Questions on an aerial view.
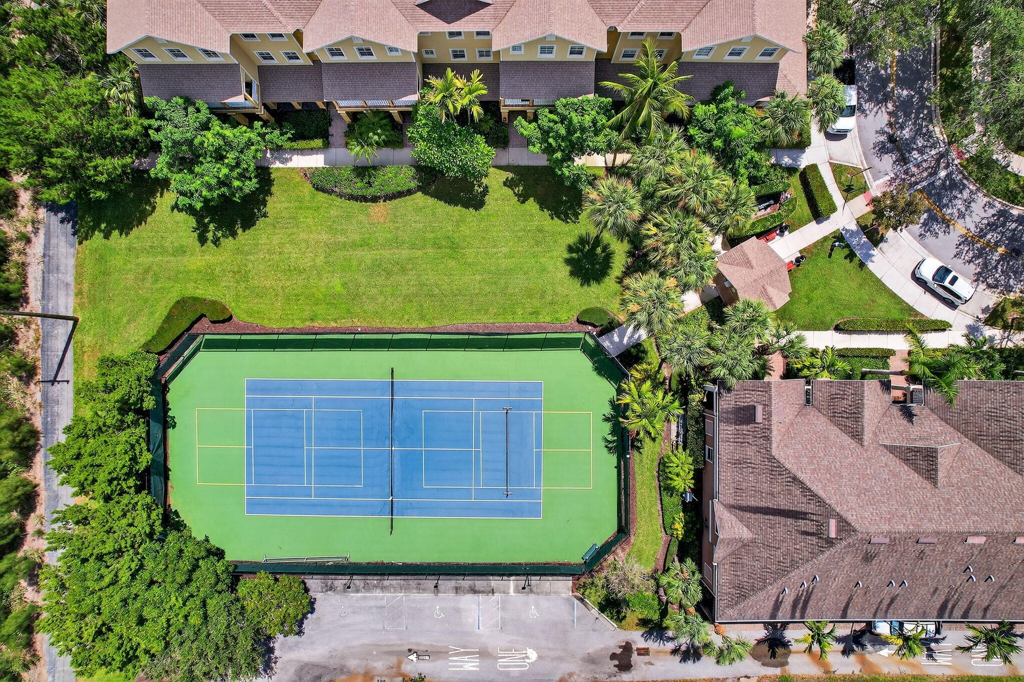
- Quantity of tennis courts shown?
1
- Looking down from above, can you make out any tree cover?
Yes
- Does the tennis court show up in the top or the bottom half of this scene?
bottom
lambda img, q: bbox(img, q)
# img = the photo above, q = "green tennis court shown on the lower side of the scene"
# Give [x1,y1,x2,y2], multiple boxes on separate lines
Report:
[168,333,622,562]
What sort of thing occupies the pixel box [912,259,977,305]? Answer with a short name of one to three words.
car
